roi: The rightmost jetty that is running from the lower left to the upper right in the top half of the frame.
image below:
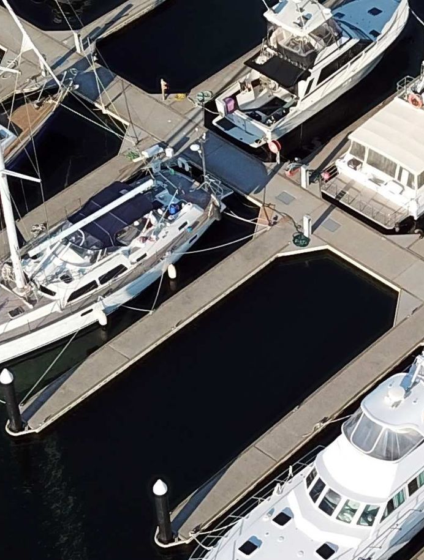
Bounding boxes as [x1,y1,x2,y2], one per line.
[257,68,424,194]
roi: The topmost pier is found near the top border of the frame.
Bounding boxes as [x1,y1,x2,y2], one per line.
[43,0,172,62]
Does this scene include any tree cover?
No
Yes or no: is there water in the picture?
Yes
